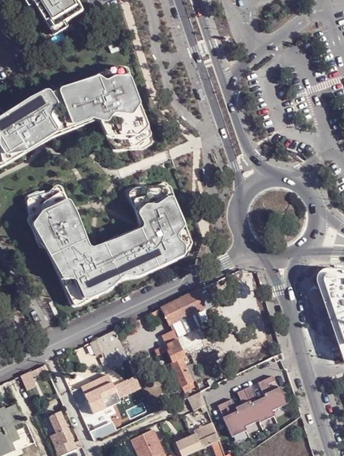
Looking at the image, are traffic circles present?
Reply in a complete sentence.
Yes, the photo shows a traffic circle.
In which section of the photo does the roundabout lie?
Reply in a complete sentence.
The roundabout is located in the right region of the scene.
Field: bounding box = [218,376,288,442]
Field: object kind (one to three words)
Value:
house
